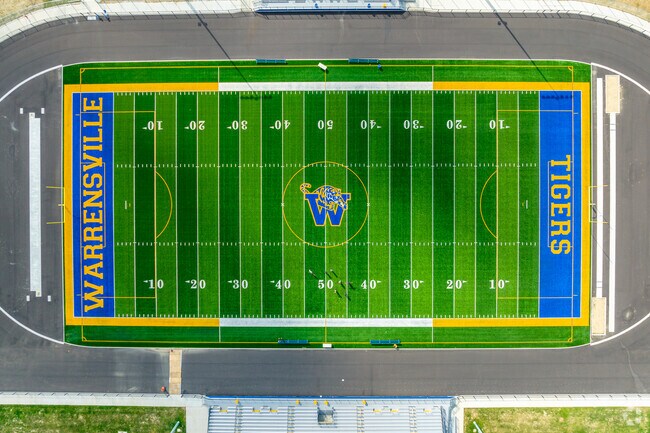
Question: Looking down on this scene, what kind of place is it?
sports ground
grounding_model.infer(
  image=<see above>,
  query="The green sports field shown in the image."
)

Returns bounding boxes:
[63,60,590,349]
